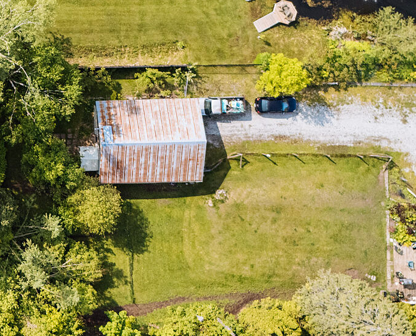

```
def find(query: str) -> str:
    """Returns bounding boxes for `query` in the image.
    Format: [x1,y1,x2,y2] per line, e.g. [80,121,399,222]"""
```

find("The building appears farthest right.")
[96,98,207,184]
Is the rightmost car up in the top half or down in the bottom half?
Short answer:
top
